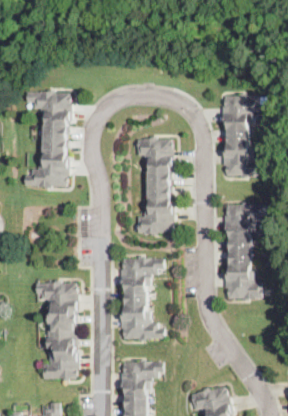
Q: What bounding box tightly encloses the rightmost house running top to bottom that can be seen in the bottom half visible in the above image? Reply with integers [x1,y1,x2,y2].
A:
[224,204,266,299]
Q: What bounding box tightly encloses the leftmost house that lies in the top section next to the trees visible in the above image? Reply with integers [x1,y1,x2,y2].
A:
[24,92,74,188]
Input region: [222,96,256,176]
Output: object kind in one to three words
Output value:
house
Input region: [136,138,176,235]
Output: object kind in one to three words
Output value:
house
